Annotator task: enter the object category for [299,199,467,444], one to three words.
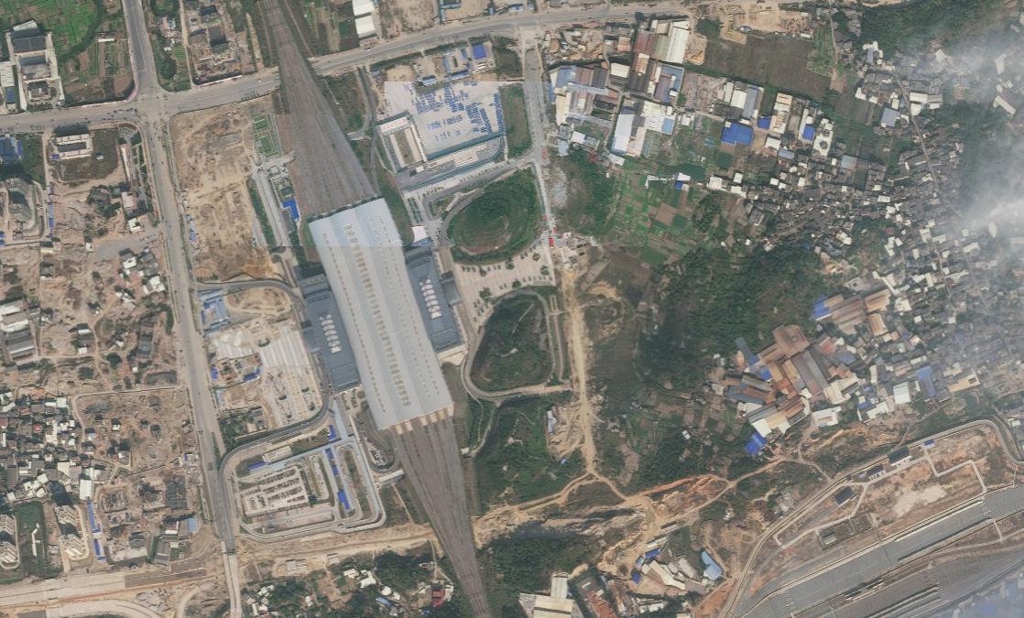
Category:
train station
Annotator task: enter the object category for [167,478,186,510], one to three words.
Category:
building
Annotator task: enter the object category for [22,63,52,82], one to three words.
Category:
house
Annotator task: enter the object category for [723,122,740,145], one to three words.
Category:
building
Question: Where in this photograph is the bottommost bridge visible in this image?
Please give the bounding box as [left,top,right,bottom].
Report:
[222,545,243,618]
